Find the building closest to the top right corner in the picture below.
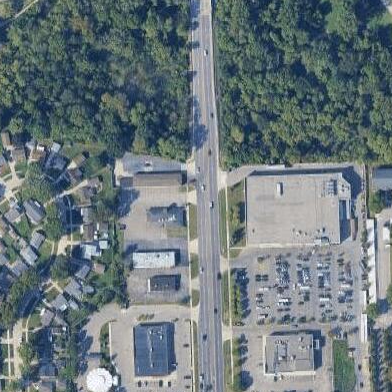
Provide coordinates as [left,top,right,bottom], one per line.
[372,168,392,189]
